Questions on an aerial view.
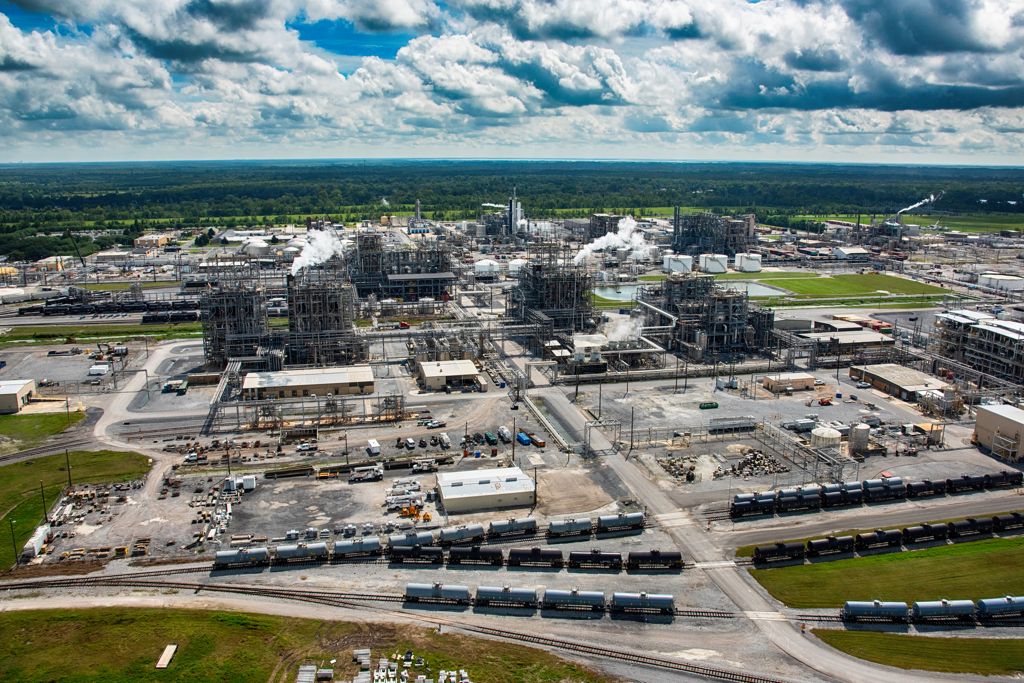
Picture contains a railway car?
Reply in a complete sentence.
Yes, you can see a railway car in this photo.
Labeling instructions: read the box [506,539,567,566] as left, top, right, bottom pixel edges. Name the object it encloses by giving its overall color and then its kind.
black rail car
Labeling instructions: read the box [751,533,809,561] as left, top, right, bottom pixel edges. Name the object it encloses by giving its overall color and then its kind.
black rail car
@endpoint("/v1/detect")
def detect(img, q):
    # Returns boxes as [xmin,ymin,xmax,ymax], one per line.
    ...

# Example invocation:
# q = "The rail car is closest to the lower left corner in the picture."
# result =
[207,540,271,568]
